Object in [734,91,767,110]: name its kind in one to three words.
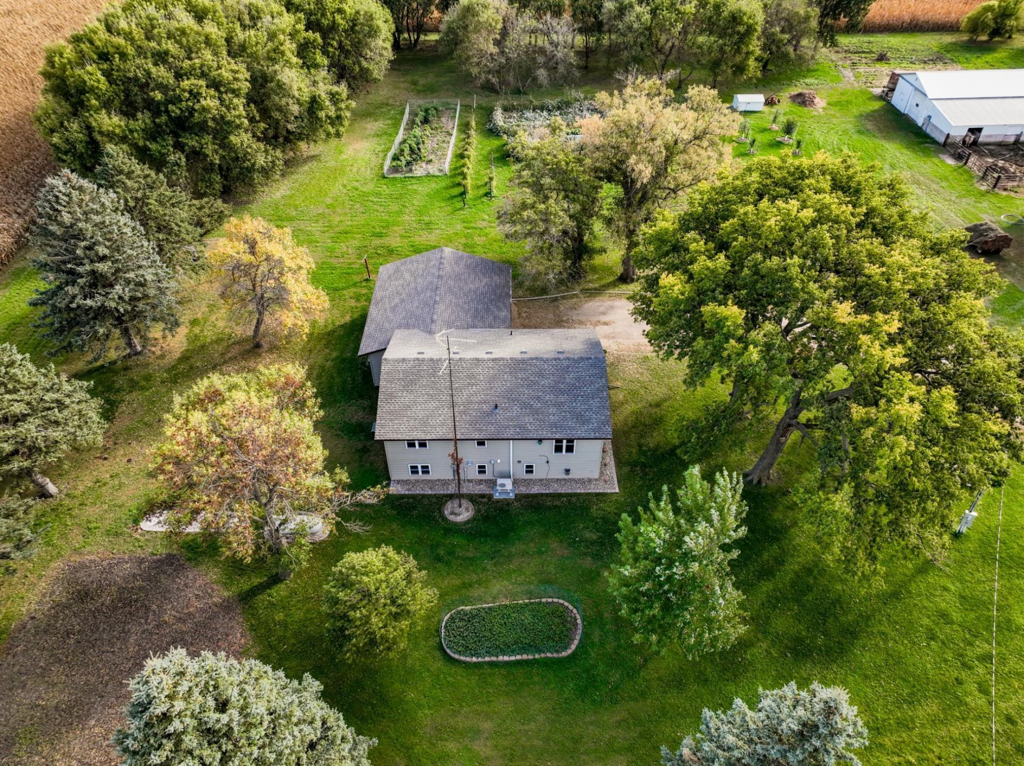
shed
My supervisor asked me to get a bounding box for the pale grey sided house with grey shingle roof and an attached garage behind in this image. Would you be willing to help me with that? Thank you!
[357,246,612,483]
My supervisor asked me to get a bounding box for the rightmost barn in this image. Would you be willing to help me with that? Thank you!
[890,71,1024,146]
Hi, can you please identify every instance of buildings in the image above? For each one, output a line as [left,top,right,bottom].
[357,246,612,483]
[890,71,1024,146]
[734,91,767,110]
